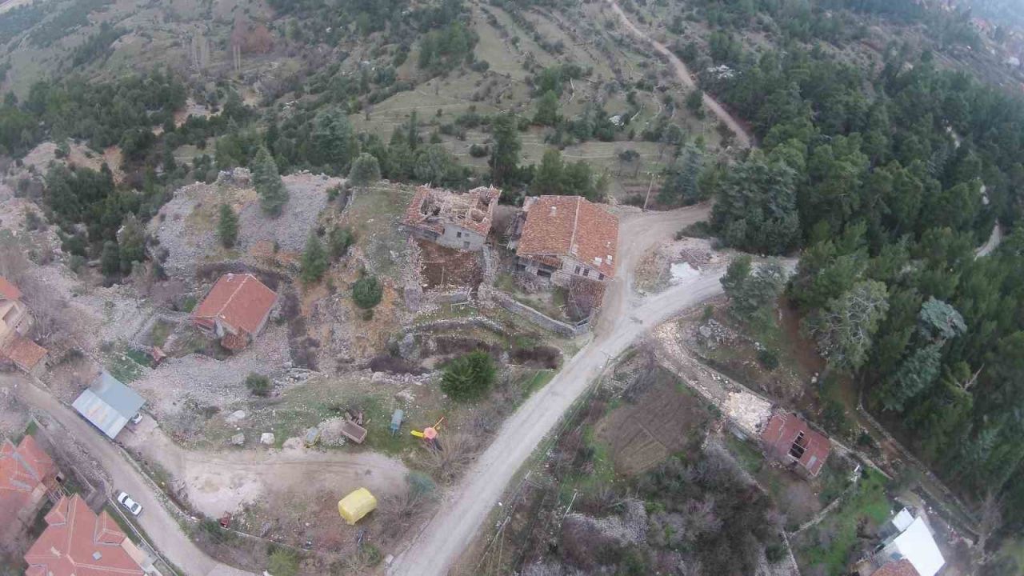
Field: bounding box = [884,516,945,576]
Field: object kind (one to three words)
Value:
building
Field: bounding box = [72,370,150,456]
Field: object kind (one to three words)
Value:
shed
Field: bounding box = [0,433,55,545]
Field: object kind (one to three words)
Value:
house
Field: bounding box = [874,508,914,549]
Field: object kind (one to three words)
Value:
shed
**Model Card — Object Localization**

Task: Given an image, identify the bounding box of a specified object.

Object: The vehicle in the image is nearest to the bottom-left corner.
[115,492,144,517]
